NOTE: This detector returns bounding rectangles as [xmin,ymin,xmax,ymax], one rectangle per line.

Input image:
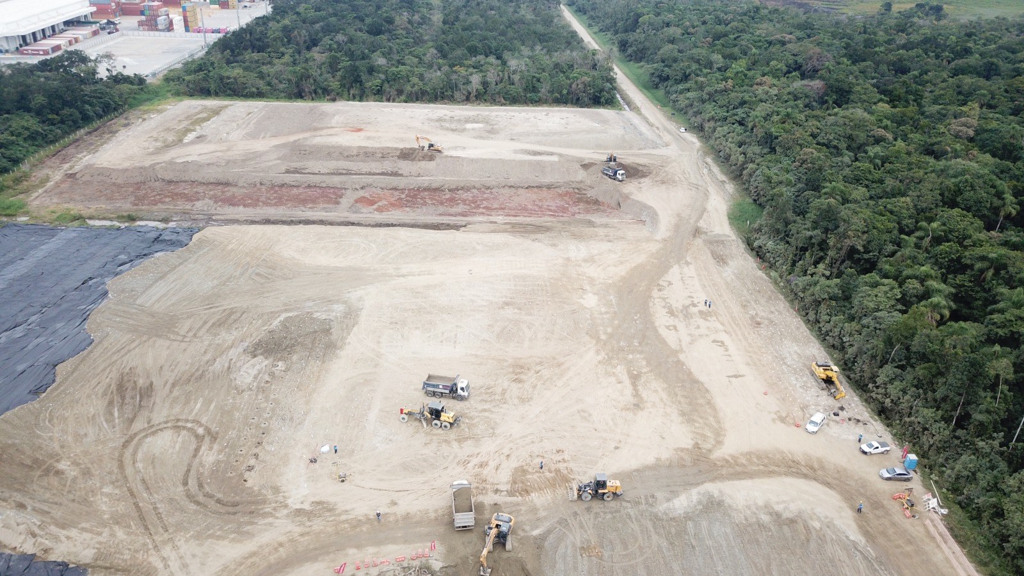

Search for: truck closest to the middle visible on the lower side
[422,375,470,402]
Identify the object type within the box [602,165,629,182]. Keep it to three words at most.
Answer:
vehicle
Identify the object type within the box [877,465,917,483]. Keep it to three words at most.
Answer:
car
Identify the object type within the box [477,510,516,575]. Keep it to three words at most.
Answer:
work vehicle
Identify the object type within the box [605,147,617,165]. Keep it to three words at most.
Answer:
vehicle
